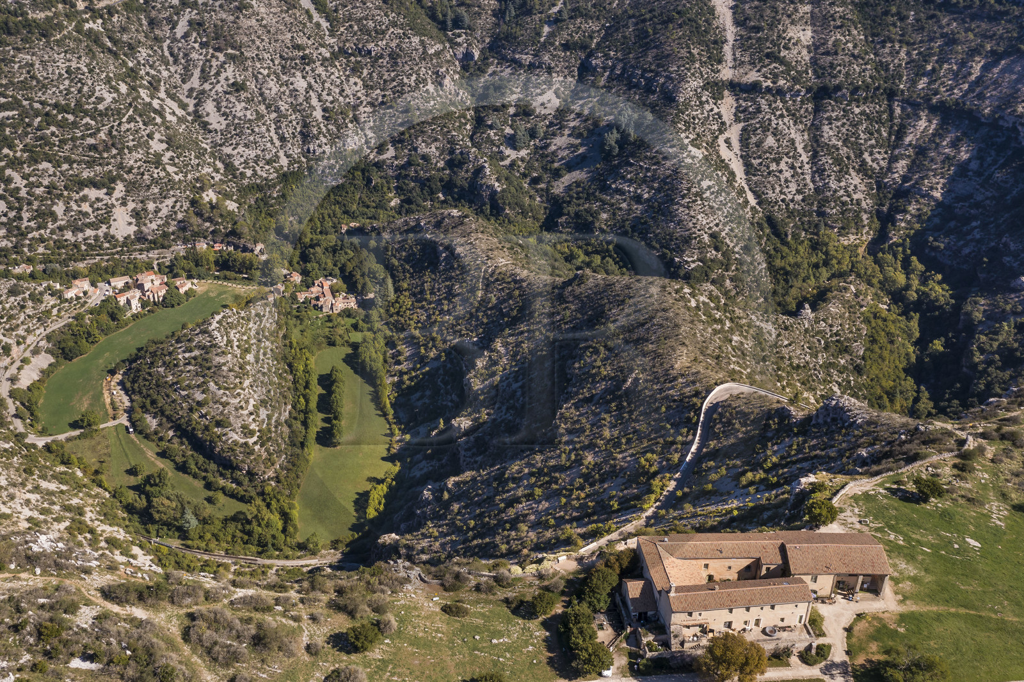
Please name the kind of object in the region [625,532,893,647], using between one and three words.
house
